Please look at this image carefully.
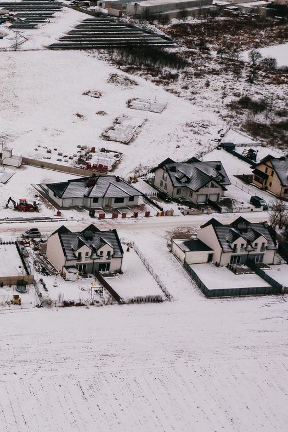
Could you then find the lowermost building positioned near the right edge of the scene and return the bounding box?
[194,214,281,271]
